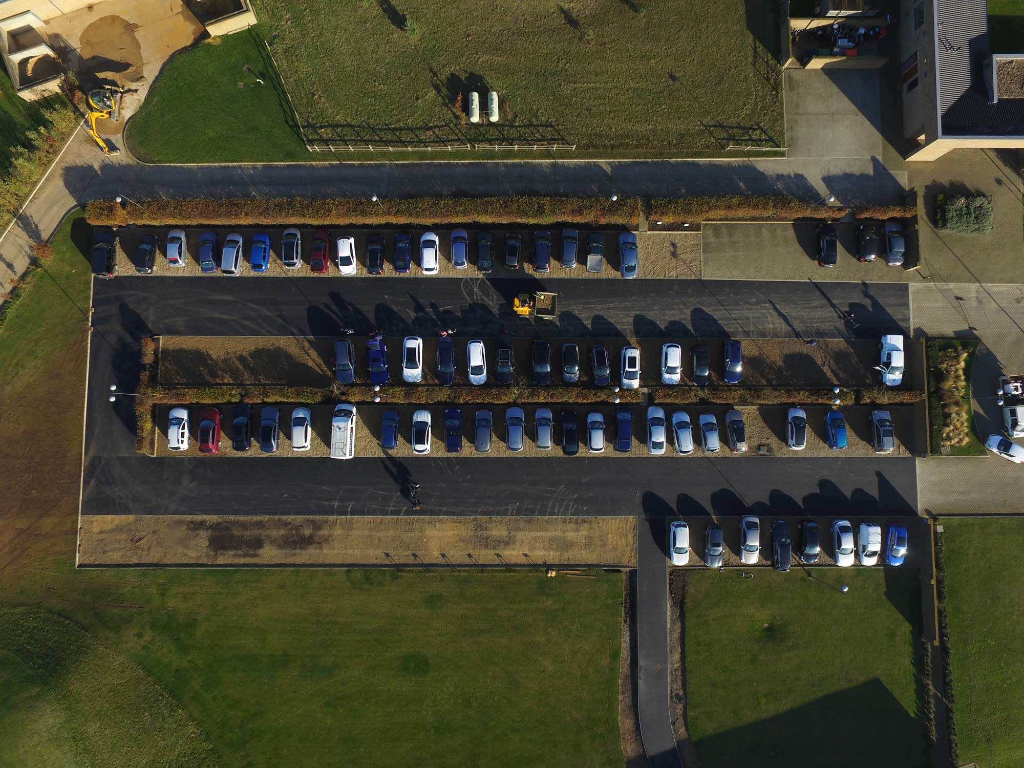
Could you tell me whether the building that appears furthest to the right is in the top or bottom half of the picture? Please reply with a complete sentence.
You can find the building that appears furthest to the right in the top half.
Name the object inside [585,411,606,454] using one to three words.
car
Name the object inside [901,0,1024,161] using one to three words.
building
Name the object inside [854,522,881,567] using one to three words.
vehicle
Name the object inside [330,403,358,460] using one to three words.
van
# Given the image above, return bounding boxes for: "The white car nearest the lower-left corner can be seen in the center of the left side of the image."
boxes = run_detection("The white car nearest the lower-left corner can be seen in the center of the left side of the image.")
[166,406,194,452]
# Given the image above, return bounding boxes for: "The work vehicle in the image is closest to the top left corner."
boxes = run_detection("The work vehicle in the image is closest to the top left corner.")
[84,85,124,160]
